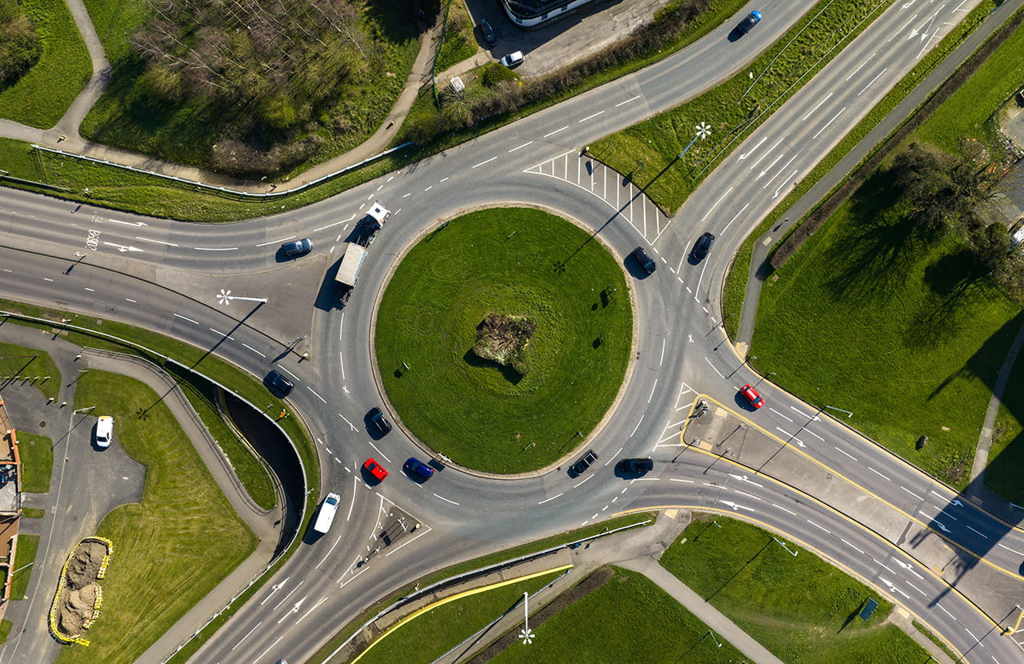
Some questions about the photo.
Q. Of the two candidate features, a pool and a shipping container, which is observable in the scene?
shipping container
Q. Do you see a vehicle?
Yes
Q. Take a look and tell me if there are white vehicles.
Yes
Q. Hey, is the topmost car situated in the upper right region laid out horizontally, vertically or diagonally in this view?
diagonally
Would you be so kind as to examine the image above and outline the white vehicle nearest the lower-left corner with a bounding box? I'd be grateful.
[97,415,117,446]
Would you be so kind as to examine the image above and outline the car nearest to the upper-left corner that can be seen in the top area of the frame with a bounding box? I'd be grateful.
[281,239,314,256]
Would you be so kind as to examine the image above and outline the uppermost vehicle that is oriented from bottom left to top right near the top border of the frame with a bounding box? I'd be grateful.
[733,10,761,37]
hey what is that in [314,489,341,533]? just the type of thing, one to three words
vehicle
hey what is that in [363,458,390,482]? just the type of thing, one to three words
car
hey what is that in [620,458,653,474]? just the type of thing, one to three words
car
